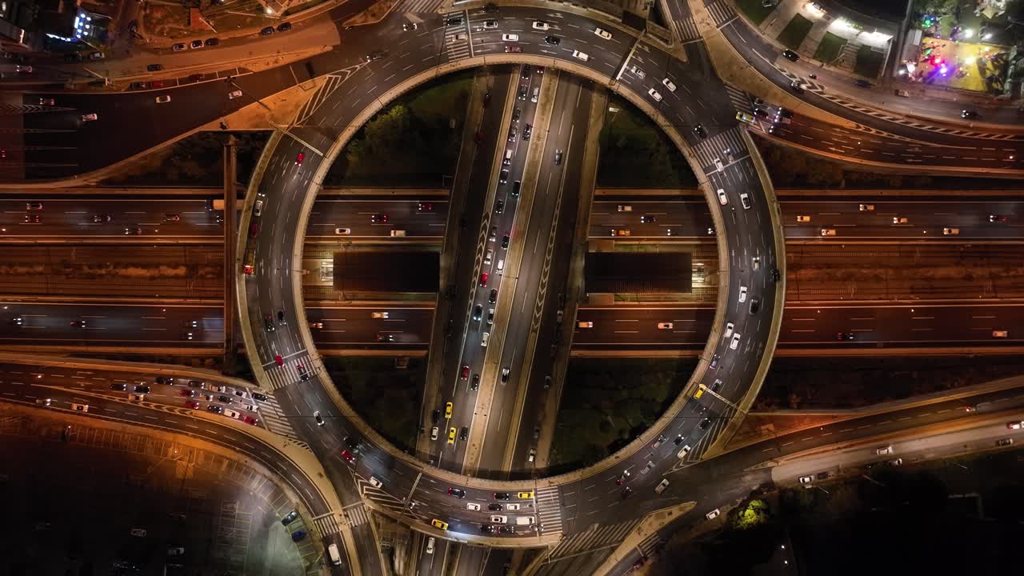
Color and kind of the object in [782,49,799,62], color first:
black vehicle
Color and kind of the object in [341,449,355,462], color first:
red vehicle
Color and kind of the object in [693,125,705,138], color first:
black vehicle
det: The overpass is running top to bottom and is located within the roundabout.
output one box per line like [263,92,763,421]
[412,0,614,576]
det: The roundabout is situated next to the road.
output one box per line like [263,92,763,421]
[236,0,786,546]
